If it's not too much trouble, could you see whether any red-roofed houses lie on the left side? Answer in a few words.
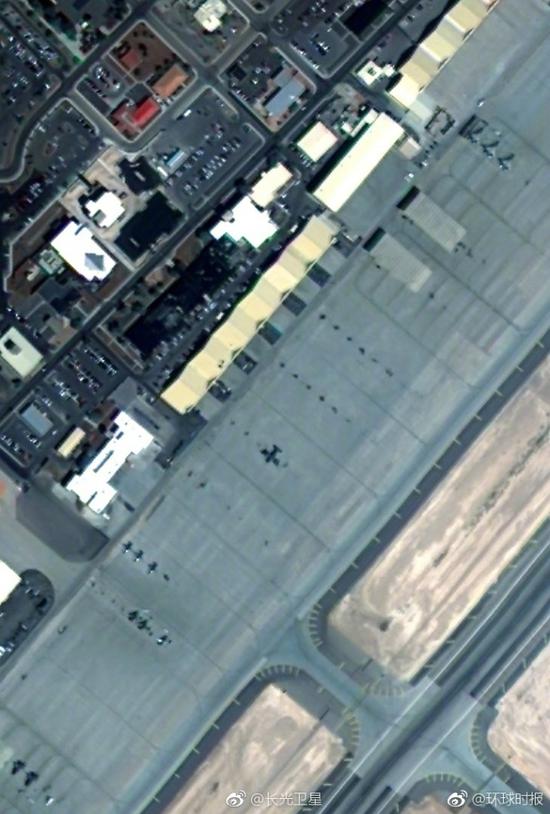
Yes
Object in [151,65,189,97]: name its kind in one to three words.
house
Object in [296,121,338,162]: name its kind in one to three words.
building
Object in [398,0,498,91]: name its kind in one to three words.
hangar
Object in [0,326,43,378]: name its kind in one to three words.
building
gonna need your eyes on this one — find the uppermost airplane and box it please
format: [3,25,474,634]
[262,447,280,464]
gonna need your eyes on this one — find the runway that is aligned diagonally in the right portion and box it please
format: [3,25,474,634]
[295,513,550,814]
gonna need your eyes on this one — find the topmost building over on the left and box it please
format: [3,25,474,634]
[195,0,227,31]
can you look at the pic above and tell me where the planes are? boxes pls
[149,561,158,572]
[134,550,145,561]
[129,610,140,622]
[14,759,24,773]
[28,770,37,782]
[140,618,150,630]
[262,447,280,464]
[123,541,134,552]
